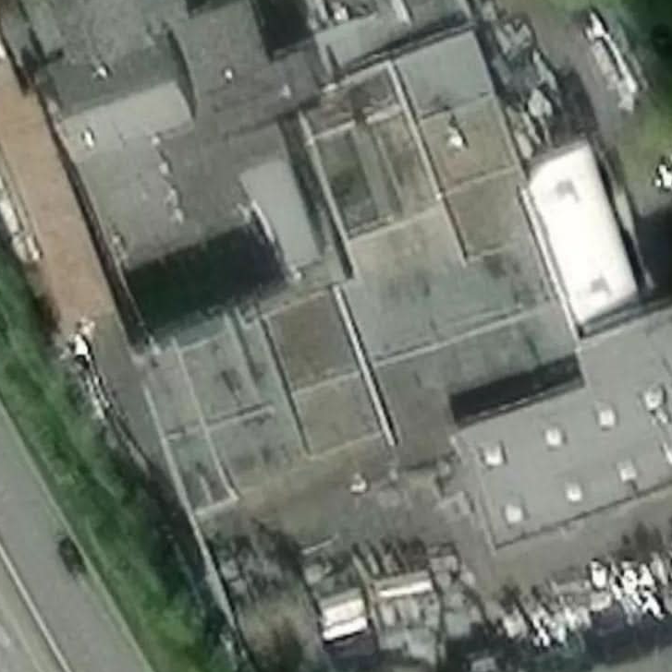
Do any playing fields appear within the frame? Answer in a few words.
No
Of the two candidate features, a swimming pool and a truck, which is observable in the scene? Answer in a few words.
truck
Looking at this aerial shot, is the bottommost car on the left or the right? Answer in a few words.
left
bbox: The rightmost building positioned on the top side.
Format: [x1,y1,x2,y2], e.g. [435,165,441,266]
[528,136,642,330]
